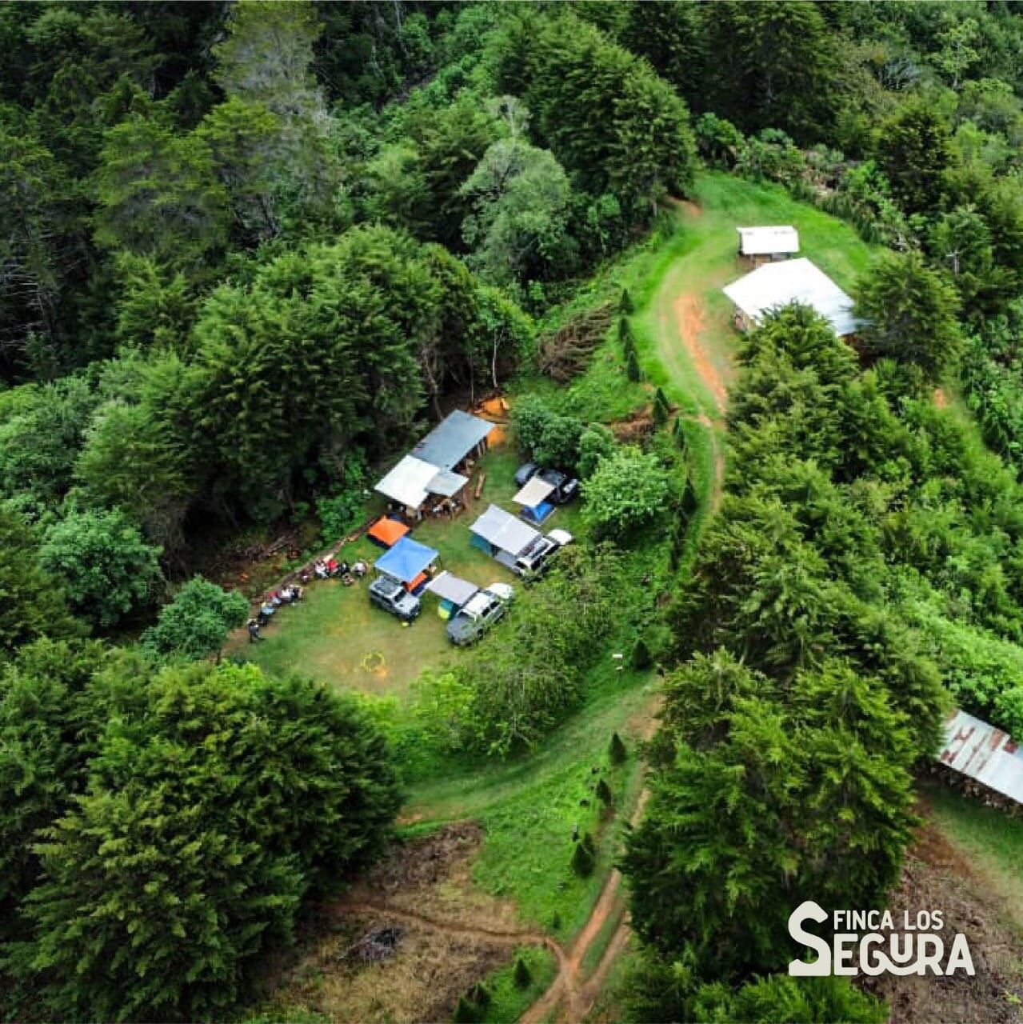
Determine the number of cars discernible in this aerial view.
4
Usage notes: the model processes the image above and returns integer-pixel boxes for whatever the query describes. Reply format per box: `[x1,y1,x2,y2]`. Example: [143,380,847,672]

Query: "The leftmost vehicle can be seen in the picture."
[359,571,434,630]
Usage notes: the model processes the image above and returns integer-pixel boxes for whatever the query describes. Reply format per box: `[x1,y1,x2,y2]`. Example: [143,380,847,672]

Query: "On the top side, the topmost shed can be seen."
[736,226,800,273]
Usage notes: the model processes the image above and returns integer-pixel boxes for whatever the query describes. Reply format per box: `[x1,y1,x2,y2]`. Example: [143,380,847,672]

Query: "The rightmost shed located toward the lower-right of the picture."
[925,714,1023,824]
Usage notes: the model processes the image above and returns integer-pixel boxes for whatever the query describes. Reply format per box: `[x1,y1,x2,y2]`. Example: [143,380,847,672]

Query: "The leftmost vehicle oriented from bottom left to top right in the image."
[444,570,523,649]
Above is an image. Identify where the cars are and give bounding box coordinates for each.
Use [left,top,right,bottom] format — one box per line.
[444,570,523,649]
[359,571,434,630]
[512,518,577,584]
[506,448,587,503]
